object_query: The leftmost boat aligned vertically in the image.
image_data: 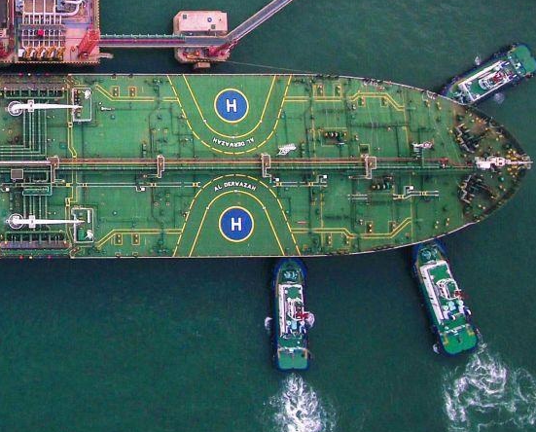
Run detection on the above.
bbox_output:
[269,256,318,372]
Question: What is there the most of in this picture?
water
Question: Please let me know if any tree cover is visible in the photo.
No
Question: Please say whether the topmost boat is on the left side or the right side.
right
